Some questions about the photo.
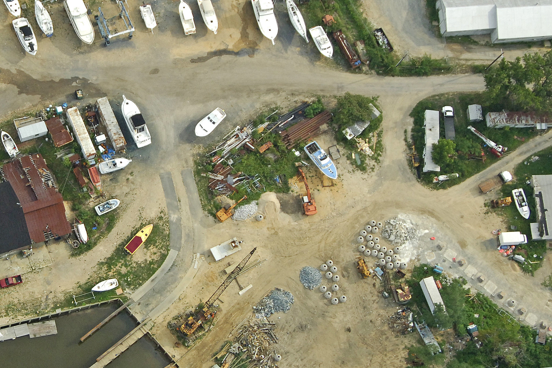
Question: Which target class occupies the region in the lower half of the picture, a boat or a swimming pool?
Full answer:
You can see a boat in the lower half of the picture.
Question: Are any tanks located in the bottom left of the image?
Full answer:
No, I can find no tank in the bottom left of the image.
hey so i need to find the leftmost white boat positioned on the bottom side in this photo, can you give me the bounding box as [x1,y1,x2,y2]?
[75,223,89,243]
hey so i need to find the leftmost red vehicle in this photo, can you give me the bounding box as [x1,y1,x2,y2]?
[0,273,24,288]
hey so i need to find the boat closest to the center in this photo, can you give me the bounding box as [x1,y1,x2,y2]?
[304,141,337,179]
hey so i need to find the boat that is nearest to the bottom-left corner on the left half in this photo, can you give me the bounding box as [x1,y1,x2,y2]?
[92,278,119,295]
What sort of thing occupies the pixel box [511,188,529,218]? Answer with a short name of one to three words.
boat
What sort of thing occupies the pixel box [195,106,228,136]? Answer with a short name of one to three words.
boat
